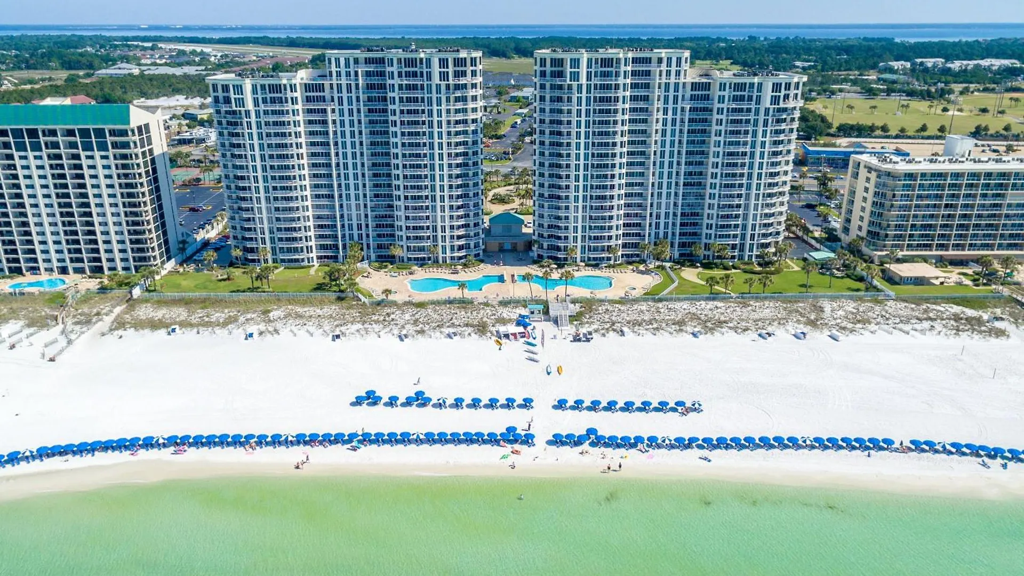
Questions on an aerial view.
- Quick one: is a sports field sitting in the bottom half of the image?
No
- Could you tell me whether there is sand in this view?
Yes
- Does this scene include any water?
Yes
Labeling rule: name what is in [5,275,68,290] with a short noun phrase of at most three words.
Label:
swimming pool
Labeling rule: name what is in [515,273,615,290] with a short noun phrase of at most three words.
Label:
swimming pool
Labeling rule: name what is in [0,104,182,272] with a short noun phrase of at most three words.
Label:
building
